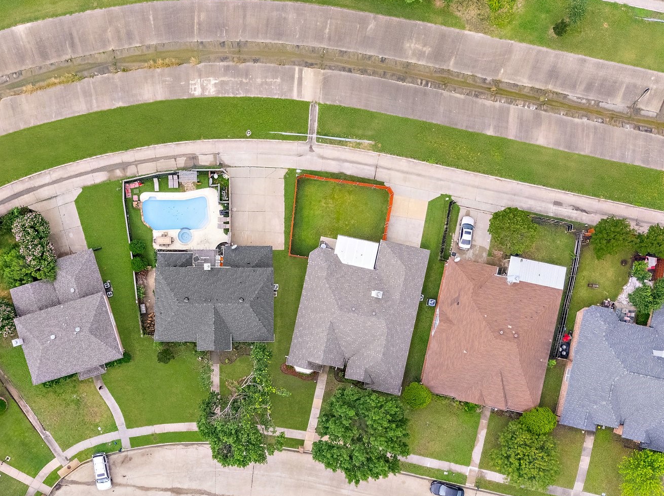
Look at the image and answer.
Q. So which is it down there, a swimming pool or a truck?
swimming pool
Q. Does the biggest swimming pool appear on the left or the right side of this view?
left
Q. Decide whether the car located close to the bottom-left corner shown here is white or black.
white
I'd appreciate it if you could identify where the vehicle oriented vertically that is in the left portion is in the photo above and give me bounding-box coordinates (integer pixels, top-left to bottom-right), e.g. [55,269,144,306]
[92,452,113,490]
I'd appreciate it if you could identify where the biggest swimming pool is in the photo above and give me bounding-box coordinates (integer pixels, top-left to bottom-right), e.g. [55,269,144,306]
[134,187,230,250]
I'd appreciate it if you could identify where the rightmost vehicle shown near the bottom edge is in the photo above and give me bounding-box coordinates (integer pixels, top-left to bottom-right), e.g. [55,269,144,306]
[429,480,465,496]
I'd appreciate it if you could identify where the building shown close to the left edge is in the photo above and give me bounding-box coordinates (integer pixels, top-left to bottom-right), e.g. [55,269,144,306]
[8,247,123,385]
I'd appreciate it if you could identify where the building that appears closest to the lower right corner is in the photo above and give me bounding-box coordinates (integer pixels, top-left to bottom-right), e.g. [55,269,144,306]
[554,305,664,450]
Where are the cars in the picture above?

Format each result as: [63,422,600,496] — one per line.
[429,480,465,496]
[92,452,113,490]
[457,216,475,250]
